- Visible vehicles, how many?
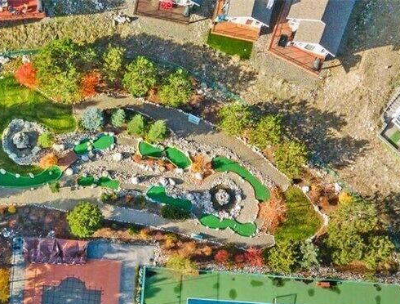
none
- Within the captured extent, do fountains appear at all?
Yes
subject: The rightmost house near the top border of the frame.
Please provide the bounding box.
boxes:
[265,0,352,79]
